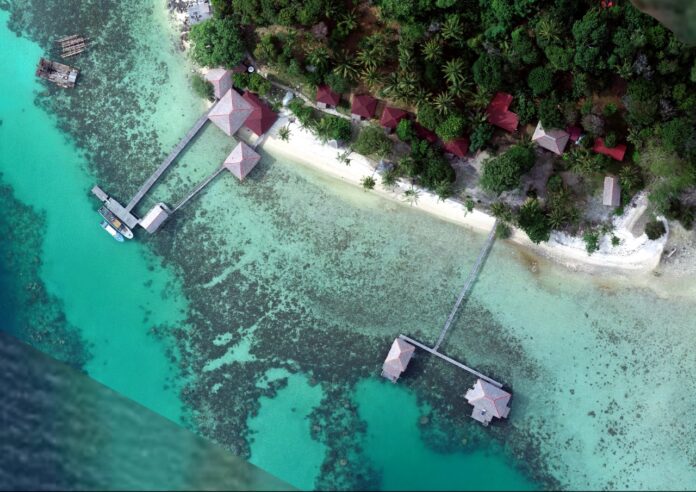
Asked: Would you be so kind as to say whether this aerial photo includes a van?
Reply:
No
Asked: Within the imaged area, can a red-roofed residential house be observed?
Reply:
Yes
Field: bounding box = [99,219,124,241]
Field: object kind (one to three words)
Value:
boat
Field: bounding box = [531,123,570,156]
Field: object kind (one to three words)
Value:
house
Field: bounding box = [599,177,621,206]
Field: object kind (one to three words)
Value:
shed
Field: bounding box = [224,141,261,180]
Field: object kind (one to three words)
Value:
building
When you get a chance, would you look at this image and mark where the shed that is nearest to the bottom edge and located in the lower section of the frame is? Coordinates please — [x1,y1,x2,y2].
[465,379,512,426]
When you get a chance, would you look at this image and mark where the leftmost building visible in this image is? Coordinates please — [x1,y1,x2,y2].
[137,201,174,235]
